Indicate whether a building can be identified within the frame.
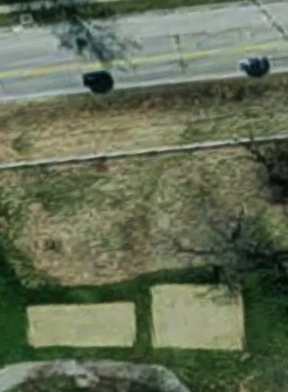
No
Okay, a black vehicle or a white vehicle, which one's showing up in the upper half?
black vehicle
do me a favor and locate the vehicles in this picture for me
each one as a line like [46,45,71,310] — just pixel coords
[81,70,113,87]
[240,57,271,73]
